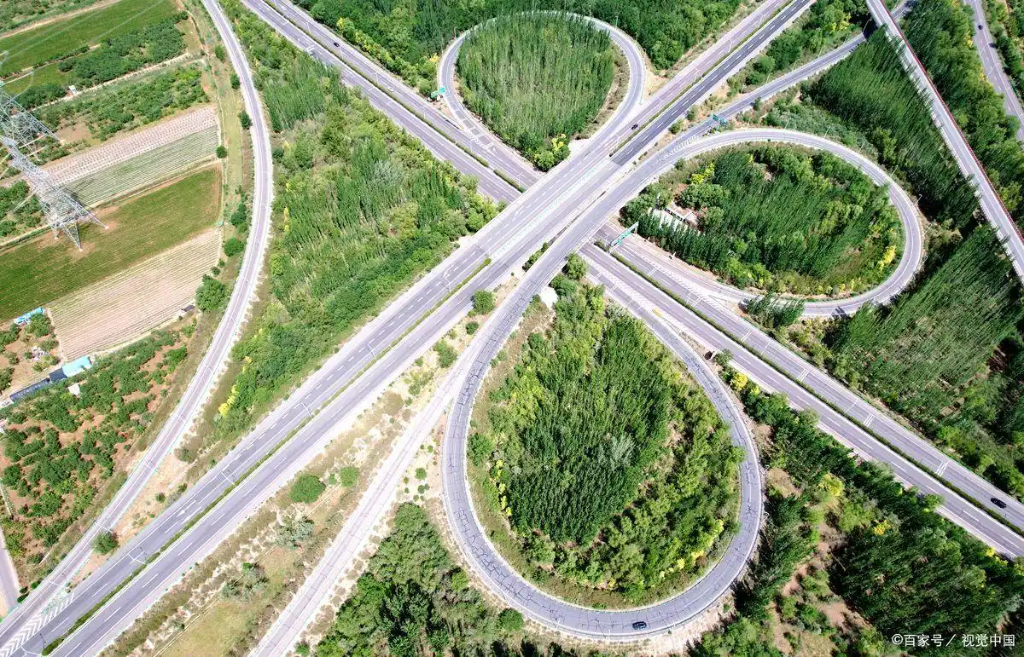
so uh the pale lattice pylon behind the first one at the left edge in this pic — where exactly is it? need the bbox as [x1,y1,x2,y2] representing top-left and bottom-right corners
[0,74,64,160]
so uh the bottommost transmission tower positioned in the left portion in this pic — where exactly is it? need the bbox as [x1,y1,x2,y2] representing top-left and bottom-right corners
[1,145,107,251]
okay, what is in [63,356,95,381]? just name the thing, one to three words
building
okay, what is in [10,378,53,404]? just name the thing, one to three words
shed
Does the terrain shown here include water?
No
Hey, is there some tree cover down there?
Yes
